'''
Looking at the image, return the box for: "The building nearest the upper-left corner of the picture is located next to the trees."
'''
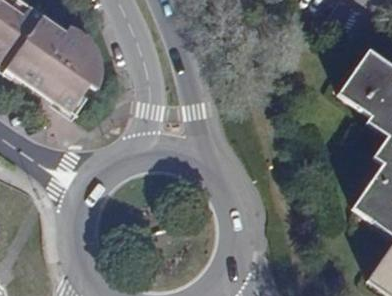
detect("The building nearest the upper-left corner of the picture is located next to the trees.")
[0,0,104,126]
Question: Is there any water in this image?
No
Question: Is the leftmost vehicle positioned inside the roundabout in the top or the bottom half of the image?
bottom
